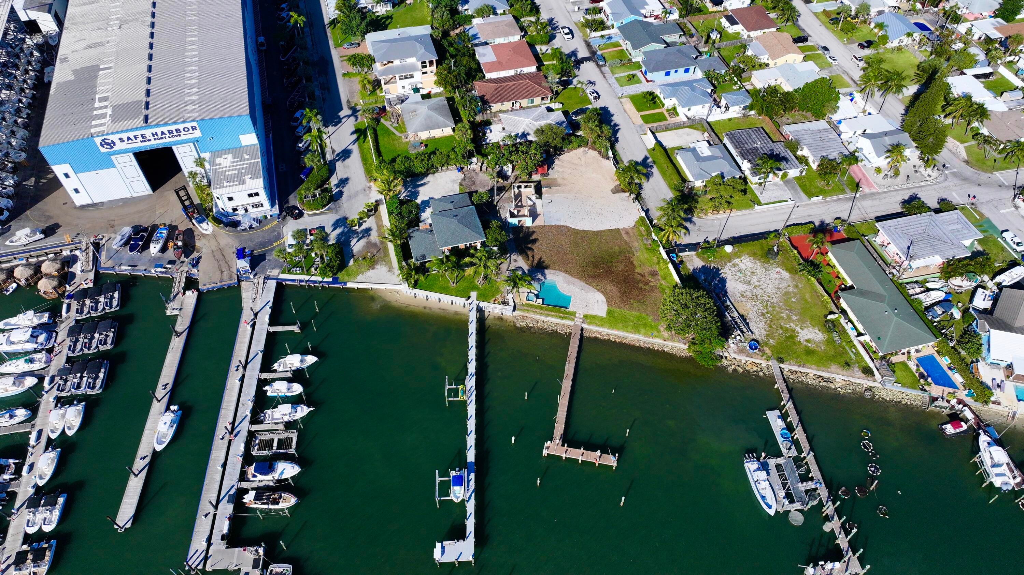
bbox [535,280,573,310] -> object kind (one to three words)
swimming pool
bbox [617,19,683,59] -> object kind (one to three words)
house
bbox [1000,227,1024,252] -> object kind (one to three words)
truck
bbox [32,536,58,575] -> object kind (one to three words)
boat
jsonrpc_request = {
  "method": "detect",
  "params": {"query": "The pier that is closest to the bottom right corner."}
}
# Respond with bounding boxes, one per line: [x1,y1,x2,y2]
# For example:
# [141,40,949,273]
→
[967,405,1024,491]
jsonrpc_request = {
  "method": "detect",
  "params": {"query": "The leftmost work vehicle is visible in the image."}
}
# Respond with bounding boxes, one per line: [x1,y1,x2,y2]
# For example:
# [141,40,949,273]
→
[168,174,205,217]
